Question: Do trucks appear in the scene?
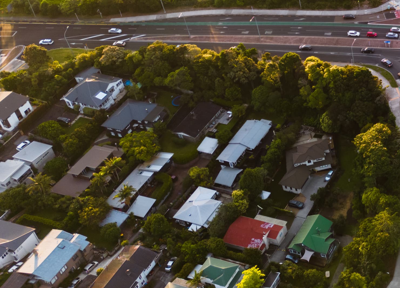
No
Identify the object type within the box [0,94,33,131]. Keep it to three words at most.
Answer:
house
